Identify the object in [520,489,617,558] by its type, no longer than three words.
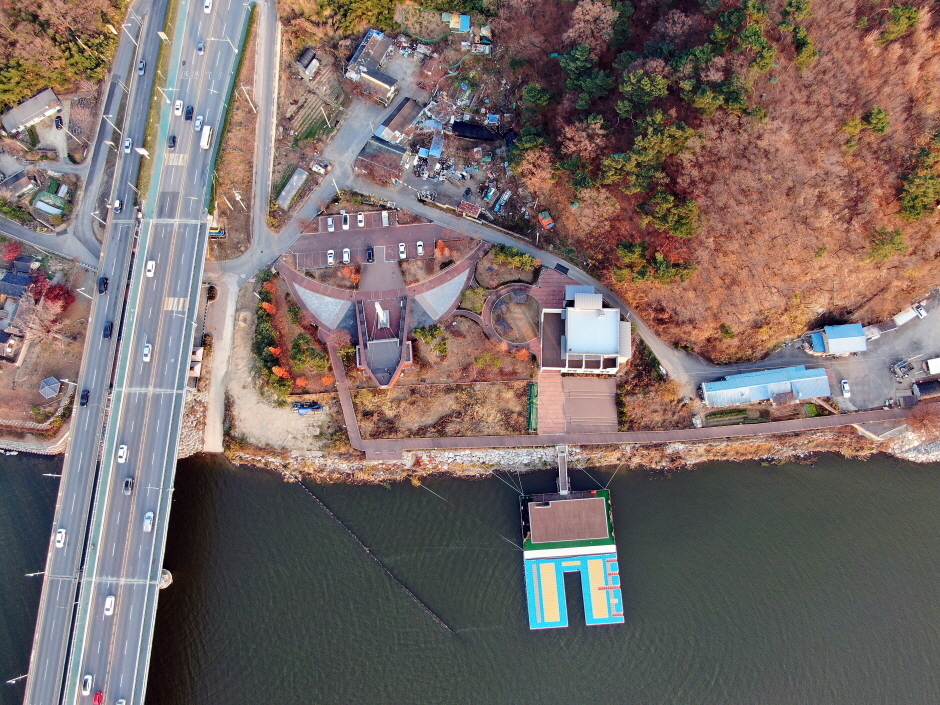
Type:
pier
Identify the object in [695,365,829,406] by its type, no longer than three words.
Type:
building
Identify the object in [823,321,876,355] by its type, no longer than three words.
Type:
house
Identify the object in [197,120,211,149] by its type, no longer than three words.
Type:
vehicle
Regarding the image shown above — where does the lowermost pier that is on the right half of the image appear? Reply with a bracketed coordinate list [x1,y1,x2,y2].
[525,554,624,630]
